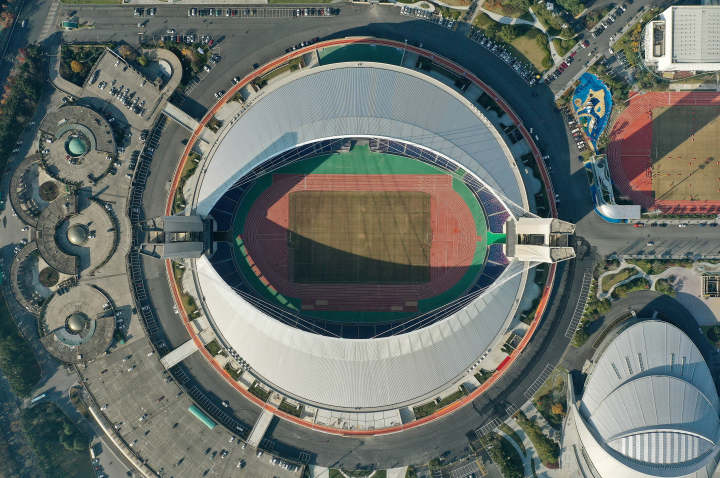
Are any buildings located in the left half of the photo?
Yes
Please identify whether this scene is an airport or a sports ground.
sports ground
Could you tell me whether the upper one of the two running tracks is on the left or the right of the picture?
right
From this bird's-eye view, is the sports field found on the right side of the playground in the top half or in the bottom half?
top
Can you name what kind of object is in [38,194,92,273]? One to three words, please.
building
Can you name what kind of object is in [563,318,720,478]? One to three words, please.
stadium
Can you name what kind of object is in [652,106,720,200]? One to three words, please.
sports field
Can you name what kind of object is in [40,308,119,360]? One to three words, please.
building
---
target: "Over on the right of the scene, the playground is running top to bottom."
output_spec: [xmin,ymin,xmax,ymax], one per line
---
[572,72,612,153]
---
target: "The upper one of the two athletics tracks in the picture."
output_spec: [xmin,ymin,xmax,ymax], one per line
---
[608,91,720,214]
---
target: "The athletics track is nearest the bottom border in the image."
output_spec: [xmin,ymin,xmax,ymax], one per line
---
[243,174,480,311]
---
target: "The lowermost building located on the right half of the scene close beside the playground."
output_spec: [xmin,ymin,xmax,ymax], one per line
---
[586,155,641,222]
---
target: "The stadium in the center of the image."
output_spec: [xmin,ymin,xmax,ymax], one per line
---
[139,40,576,433]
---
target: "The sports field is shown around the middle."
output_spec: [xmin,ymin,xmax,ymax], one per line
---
[288,192,432,285]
